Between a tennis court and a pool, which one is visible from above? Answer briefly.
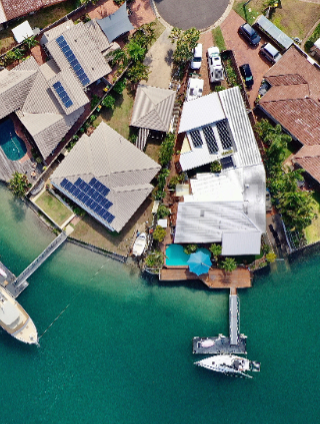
pool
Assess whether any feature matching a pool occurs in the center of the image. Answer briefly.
Yes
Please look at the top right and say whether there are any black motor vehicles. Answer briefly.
Yes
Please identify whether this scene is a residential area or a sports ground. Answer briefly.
residential area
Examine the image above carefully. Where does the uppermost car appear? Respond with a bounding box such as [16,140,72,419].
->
[237,25,261,48]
